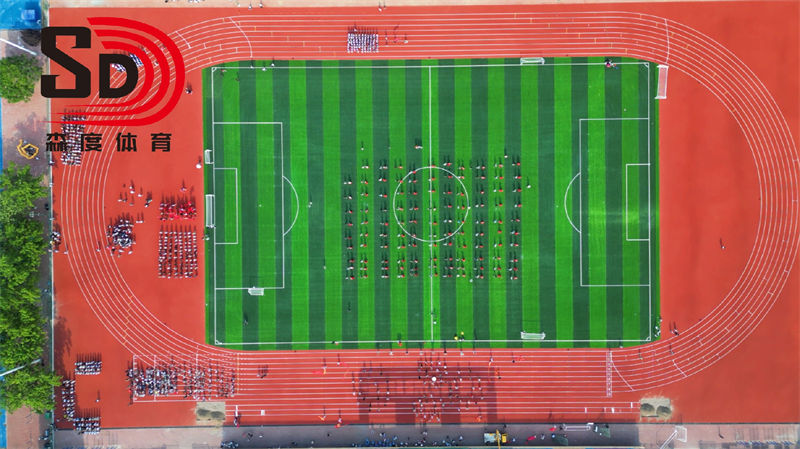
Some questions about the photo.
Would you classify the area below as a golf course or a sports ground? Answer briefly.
sports ground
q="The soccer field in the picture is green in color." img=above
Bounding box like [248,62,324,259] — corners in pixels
[202,56,661,351]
